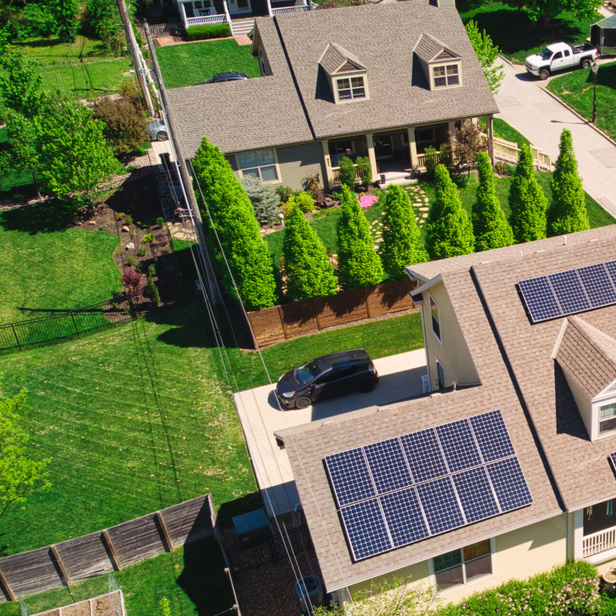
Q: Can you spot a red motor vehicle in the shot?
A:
No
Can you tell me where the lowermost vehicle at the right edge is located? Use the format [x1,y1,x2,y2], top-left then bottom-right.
[519,43,596,78]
